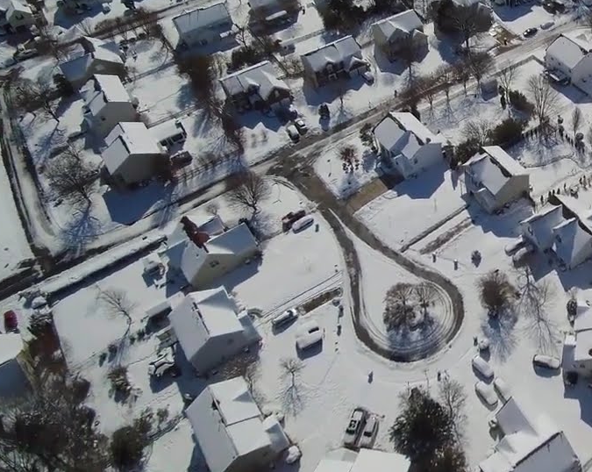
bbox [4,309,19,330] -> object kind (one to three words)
car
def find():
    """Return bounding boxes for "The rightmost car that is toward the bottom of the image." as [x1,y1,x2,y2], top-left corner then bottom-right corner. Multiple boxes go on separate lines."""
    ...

[533,355,559,370]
